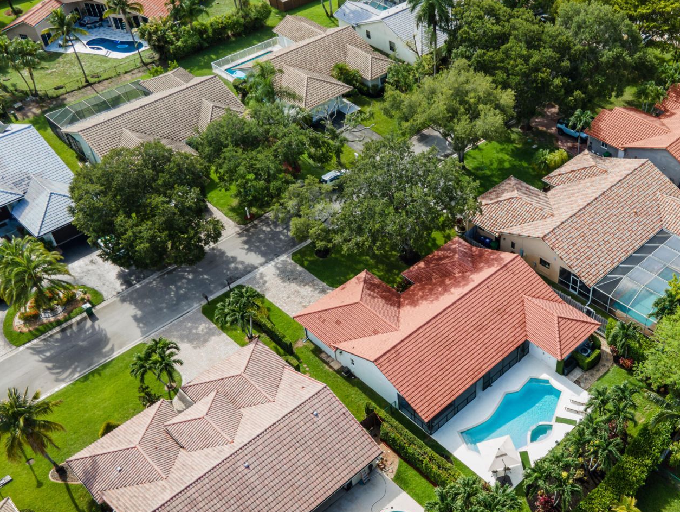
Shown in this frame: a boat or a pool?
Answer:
pool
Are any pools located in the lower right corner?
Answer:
Yes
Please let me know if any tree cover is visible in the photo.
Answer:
Yes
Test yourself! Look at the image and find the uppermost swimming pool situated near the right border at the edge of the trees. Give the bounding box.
[607,264,680,326]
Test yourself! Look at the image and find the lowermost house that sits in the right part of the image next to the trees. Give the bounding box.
[292,236,603,436]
